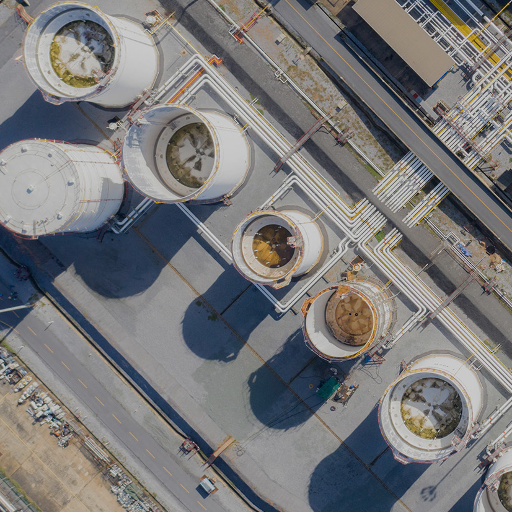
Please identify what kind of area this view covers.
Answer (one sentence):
This looks like an industrial area.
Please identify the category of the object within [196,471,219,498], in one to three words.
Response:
building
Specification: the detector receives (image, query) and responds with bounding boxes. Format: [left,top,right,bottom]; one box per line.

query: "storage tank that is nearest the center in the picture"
[228,205,327,290]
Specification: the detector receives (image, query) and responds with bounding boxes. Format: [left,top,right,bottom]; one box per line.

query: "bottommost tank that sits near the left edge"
[0,139,129,235]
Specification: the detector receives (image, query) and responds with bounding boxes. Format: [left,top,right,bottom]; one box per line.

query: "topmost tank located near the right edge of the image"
[373,349,488,470]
